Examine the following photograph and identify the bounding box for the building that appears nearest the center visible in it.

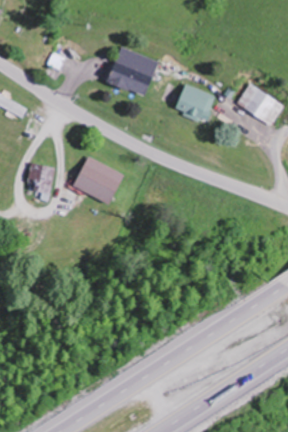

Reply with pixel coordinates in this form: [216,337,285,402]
[70,156,124,204]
